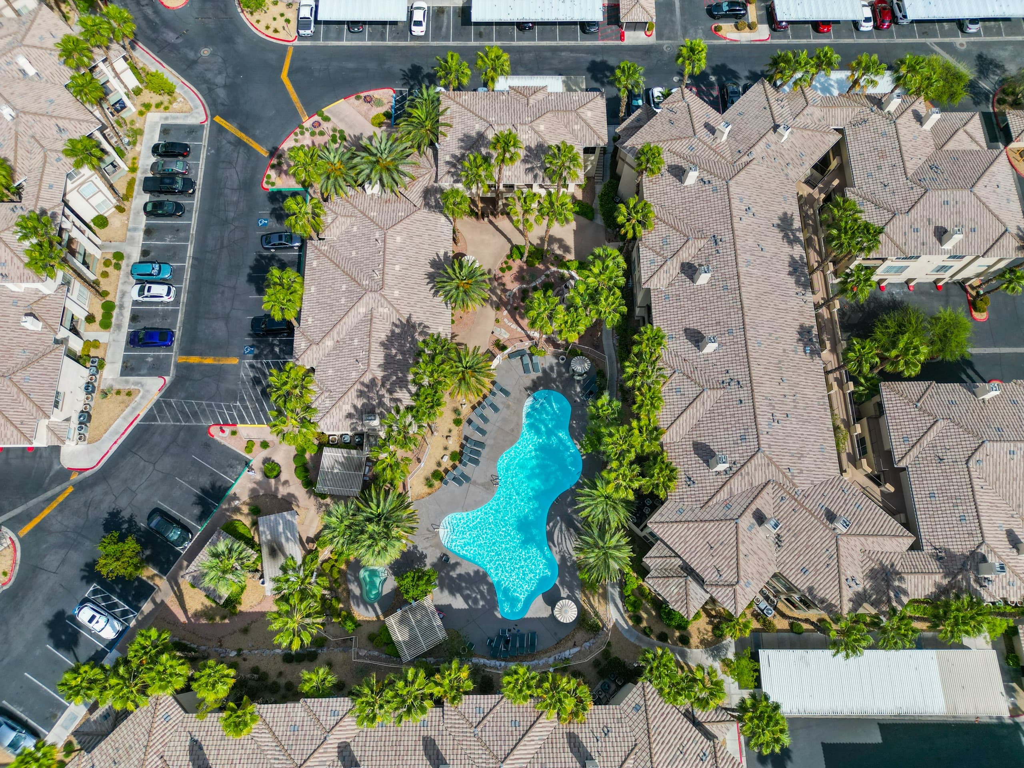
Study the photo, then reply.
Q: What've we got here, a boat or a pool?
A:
pool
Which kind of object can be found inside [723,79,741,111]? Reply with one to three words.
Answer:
car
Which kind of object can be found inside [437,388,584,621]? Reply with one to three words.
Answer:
swimming pool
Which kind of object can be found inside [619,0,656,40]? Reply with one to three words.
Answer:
building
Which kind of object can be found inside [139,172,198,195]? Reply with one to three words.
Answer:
truck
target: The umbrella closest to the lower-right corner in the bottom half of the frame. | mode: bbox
[555,599,578,623]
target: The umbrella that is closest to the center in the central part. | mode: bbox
[571,355,591,374]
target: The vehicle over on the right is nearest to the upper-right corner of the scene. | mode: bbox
[961,19,980,31]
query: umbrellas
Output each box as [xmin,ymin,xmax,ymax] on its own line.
[571,355,591,374]
[462,254,479,270]
[555,599,578,623]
